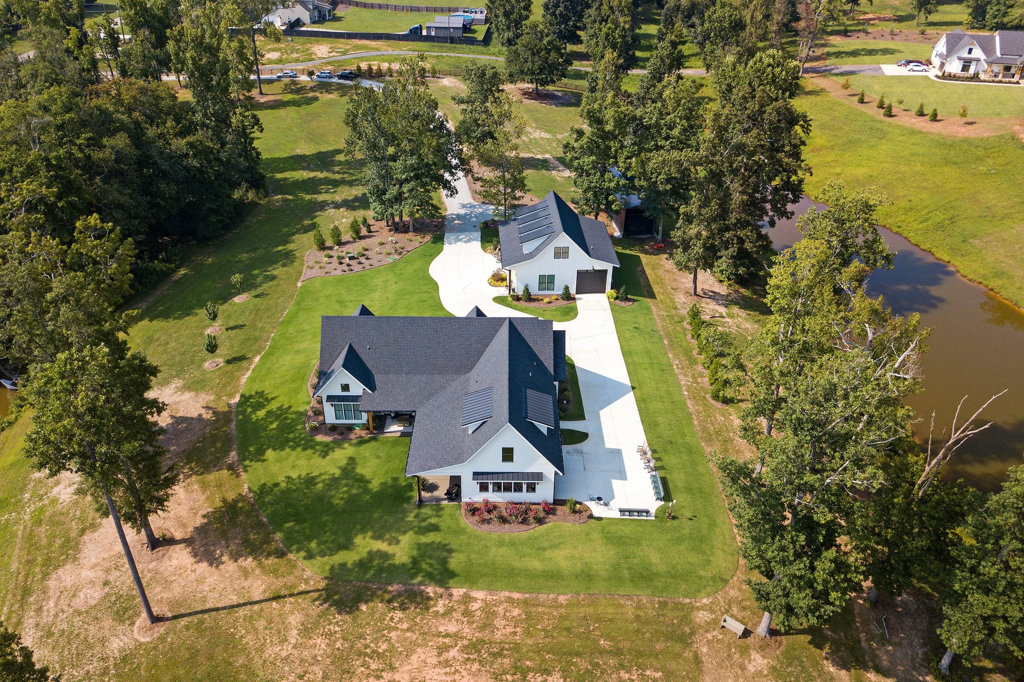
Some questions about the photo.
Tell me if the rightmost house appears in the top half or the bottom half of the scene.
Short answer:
top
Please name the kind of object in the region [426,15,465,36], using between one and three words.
shed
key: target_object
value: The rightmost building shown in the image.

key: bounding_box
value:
[914,27,1024,79]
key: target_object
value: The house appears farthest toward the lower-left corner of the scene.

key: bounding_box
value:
[310,304,567,506]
